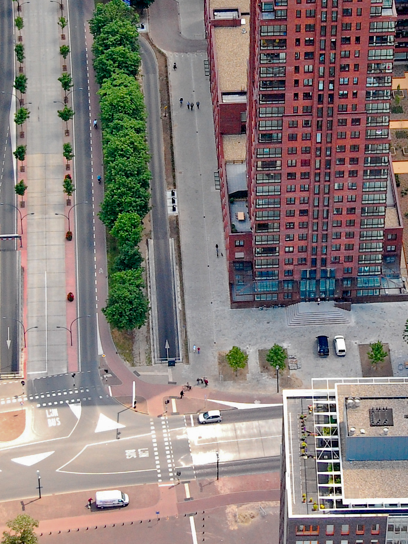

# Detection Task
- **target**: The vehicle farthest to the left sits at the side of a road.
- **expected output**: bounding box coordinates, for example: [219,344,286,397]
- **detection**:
[96,489,127,507]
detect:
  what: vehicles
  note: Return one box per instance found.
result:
[197,409,222,424]
[96,489,127,507]
[318,337,327,355]
[334,337,345,356]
